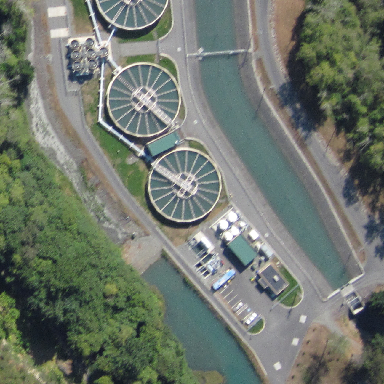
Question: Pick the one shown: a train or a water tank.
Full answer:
This aerial view contains a water tank.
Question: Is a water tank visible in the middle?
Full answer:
Yes, looking in the middle, one can make out a water tank.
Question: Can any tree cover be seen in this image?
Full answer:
Yes, tree cover shows up in the scene.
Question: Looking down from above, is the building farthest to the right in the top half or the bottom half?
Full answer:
The building farthest to the right sits in the bottom half of the picture.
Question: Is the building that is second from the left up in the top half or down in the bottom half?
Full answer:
Seen from above, the building that is second from the left lies in the bottom half of the view.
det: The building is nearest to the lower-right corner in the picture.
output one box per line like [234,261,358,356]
[257,263,289,295]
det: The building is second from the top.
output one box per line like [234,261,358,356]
[228,235,257,265]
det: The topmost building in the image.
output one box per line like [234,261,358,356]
[148,132,179,156]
